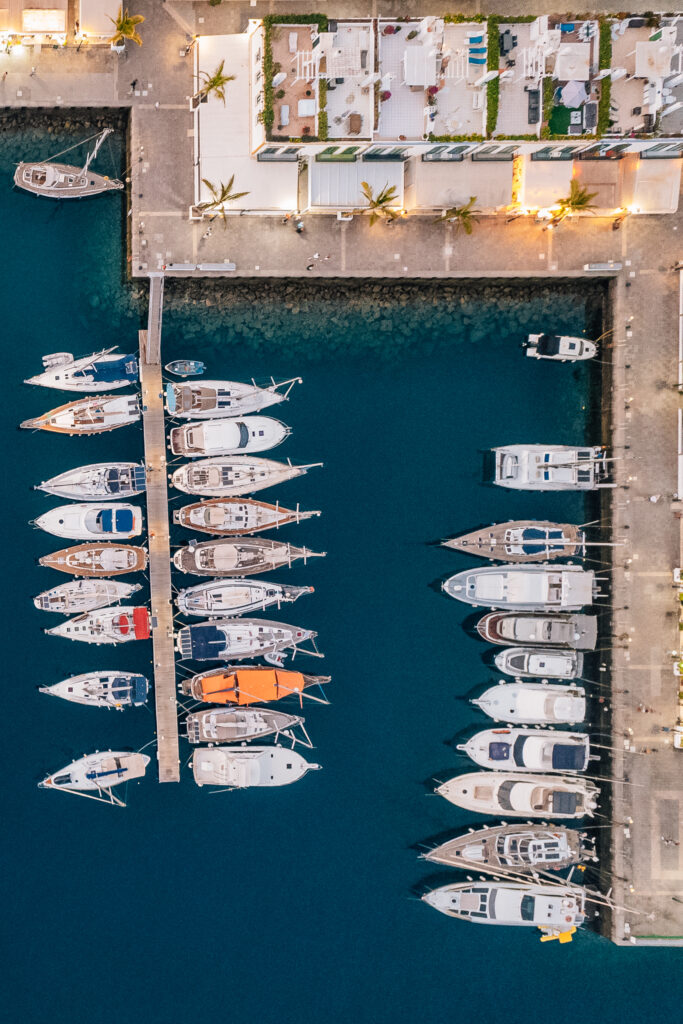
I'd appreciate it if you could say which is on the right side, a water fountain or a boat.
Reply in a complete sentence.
The one visible on the right side is a boat.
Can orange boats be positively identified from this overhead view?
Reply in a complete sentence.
Yes, an orange boat can be made out from above.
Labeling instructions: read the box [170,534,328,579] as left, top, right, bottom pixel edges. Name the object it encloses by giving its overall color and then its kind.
gray boat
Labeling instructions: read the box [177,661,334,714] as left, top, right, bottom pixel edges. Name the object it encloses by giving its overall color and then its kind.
orange boat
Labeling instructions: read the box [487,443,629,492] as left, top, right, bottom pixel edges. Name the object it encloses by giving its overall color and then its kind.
white boat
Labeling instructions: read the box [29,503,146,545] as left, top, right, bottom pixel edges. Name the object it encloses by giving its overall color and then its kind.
white boat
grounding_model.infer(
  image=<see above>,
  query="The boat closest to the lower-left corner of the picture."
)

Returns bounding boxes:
[37,740,156,806]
